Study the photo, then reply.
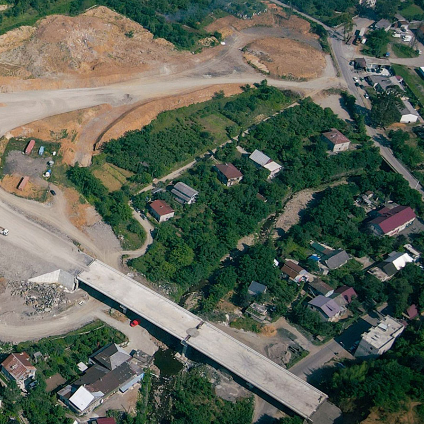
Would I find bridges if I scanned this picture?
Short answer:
Yes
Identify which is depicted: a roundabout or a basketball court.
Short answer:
roundabout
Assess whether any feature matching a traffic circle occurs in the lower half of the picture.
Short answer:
No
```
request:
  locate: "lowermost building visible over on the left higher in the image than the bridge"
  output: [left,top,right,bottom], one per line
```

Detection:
[149,200,175,226]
